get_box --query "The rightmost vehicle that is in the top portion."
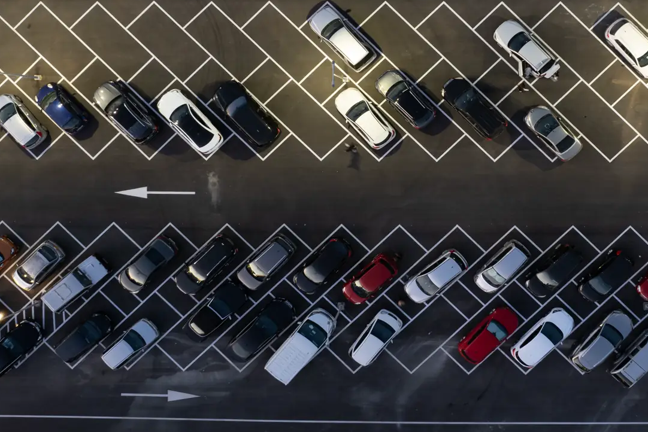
[601,15,648,80]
